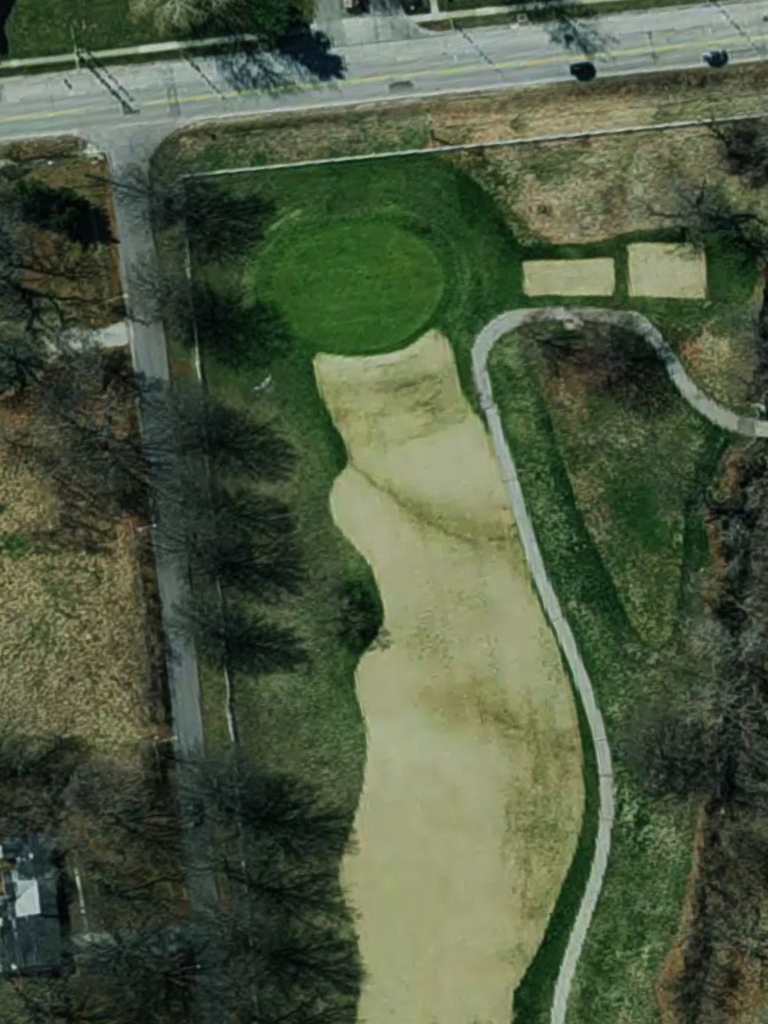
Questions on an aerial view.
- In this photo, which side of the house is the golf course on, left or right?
on the right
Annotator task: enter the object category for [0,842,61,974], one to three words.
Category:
house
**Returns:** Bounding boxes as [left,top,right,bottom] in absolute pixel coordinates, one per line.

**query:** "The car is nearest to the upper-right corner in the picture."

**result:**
[703,50,730,64]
